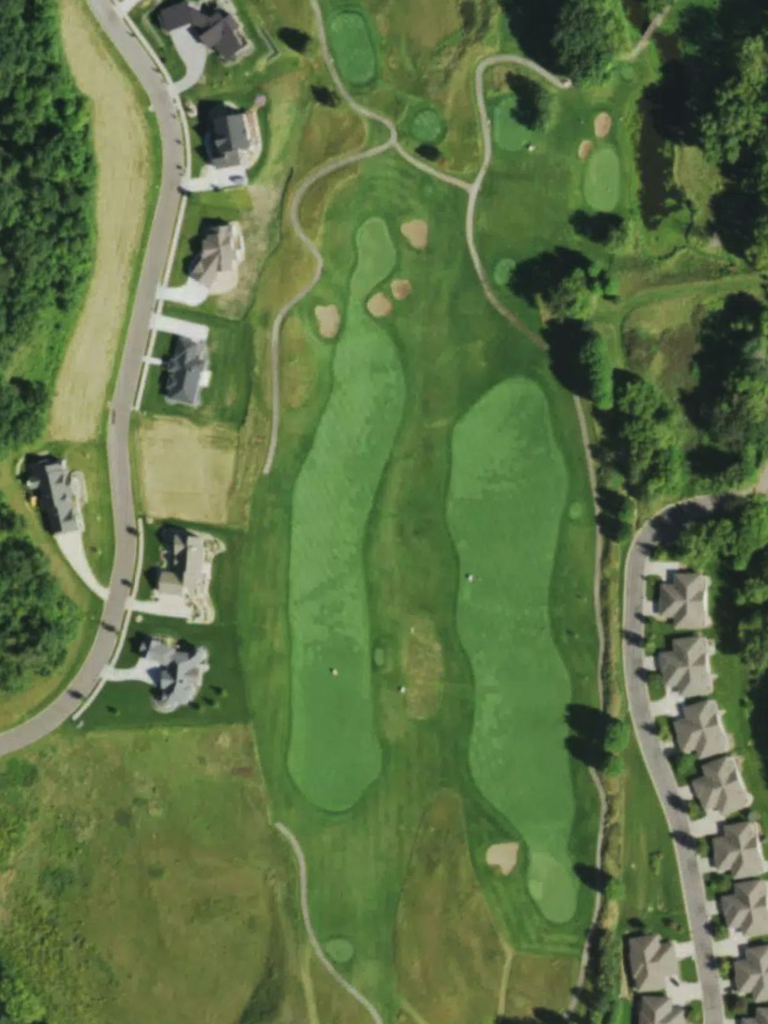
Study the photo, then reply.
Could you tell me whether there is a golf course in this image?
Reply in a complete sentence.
Yes, you can see a golf course in this photo.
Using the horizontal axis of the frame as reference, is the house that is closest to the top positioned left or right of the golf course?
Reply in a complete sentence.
From the viewer's perspective, the house that is closest to the top falls to the left of the golf course.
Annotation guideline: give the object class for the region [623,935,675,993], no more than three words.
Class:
house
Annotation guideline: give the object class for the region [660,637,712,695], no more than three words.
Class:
house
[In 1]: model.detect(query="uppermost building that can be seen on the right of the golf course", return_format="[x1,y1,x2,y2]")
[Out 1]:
[658,573,708,628]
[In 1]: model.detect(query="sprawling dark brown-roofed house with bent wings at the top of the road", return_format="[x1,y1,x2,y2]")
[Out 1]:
[158,1,240,59]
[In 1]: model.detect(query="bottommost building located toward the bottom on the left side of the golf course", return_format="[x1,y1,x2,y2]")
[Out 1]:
[145,637,211,711]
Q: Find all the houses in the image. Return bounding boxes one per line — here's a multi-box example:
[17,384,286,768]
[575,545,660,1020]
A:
[720,880,768,939]
[24,457,79,534]
[145,637,211,711]
[711,820,765,879]
[623,935,675,993]
[636,995,686,1024]
[734,946,768,1003]
[165,336,211,402]
[158,1,240,59]
[156,534,204,595]
[671,698,727,759]
[188,225,234,288]
[691,757,748,818]
[660,637,712,695]
[658,573,708,628]
[207,111,251,170]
